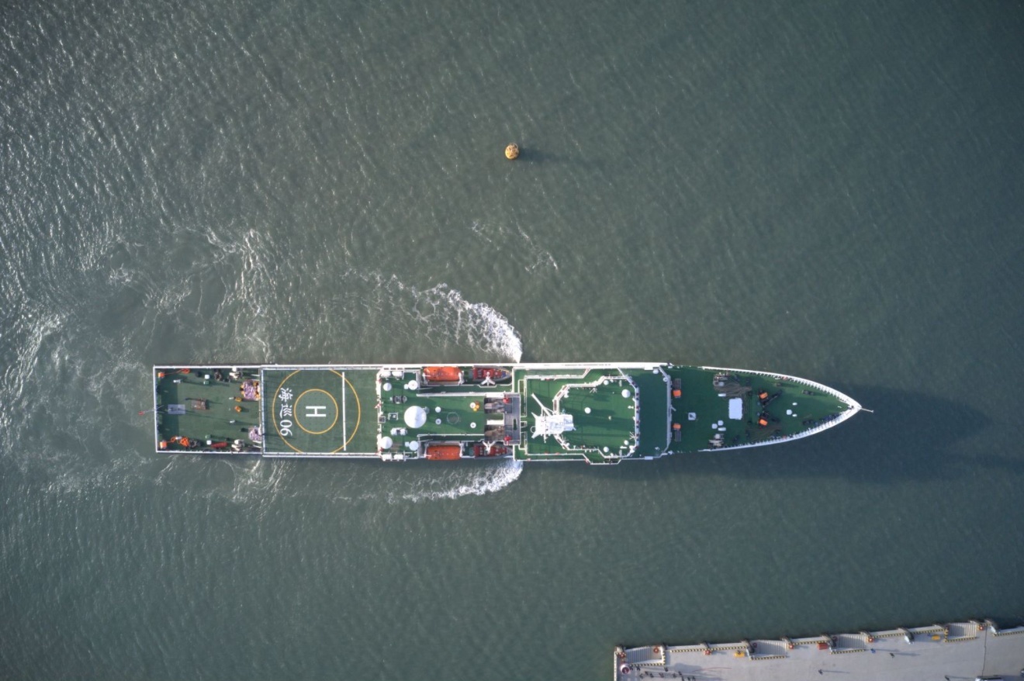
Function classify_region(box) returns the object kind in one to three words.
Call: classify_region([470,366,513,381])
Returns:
boat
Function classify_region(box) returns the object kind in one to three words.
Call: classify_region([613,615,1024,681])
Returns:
pier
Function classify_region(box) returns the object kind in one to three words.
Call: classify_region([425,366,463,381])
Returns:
boat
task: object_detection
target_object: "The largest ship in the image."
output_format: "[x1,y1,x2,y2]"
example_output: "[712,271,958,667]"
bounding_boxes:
[142,360,874,464]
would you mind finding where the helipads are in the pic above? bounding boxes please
[260,365,379,457]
